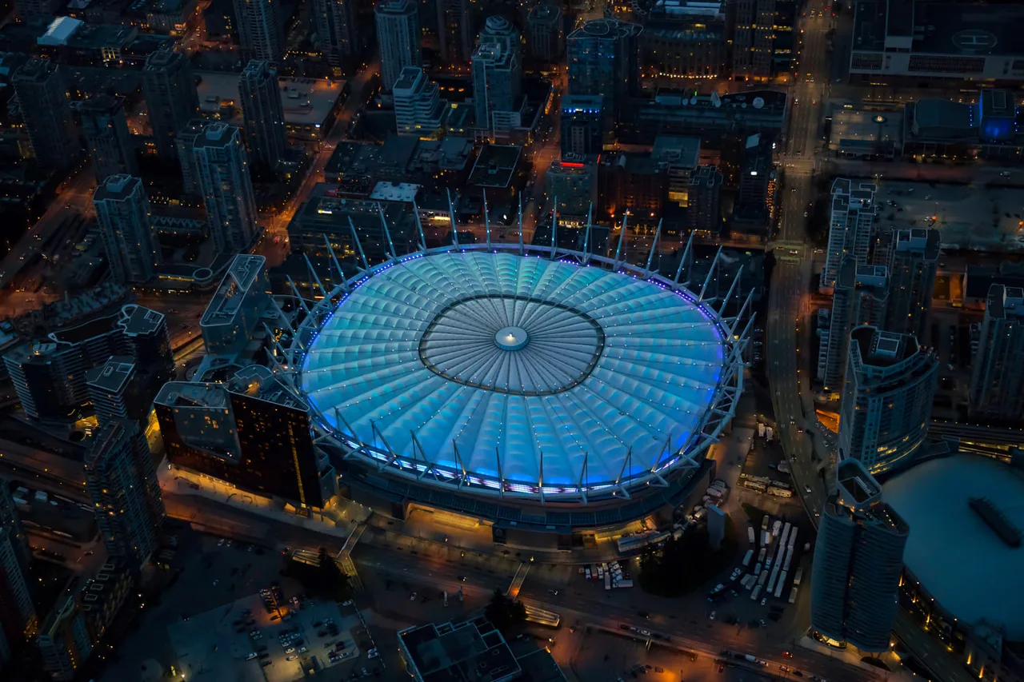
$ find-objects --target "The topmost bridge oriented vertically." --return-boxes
[766,0,834,532]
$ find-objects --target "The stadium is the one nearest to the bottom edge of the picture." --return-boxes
[880,455,1024,682]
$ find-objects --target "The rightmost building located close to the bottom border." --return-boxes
[806,457,910,653]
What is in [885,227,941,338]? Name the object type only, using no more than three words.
building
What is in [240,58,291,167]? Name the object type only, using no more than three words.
building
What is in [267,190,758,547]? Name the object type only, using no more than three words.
stadium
